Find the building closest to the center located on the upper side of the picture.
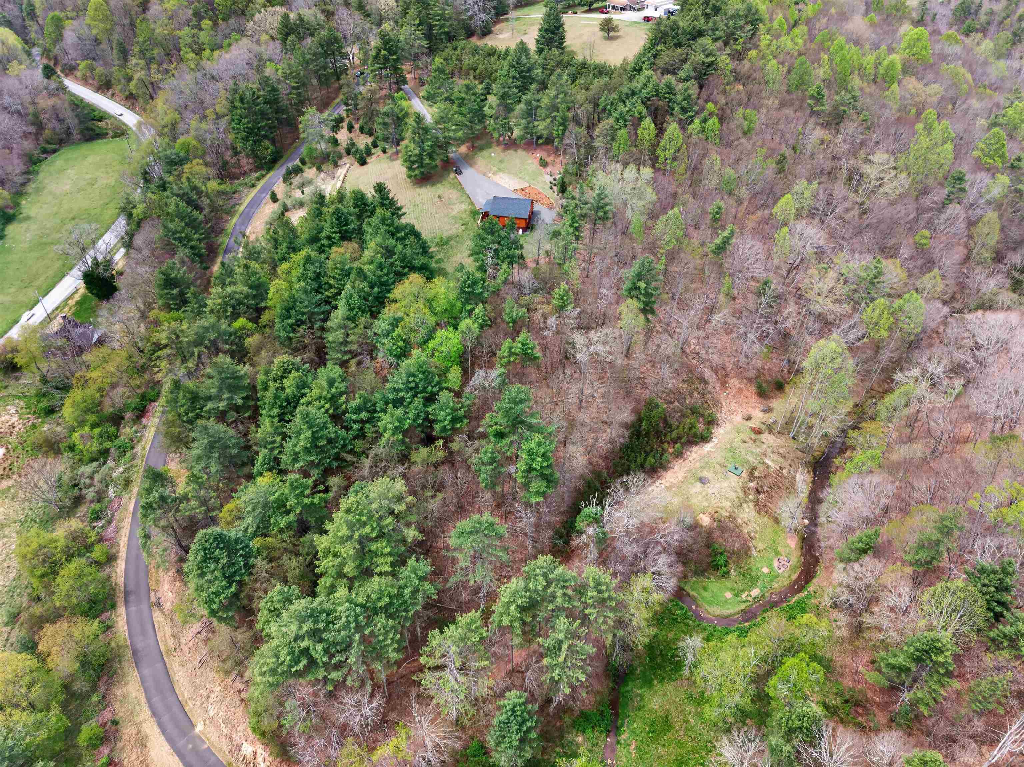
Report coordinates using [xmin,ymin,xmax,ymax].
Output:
[472,198,531,236]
